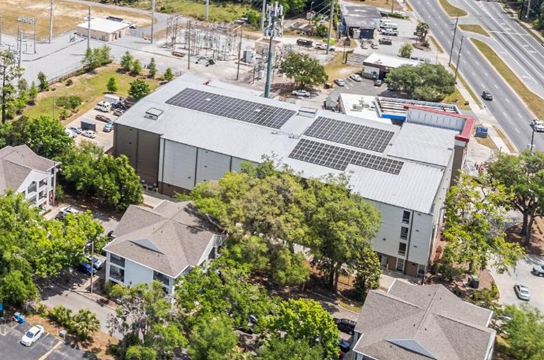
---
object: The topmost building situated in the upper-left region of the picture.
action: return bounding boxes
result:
[75,18,134,45]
